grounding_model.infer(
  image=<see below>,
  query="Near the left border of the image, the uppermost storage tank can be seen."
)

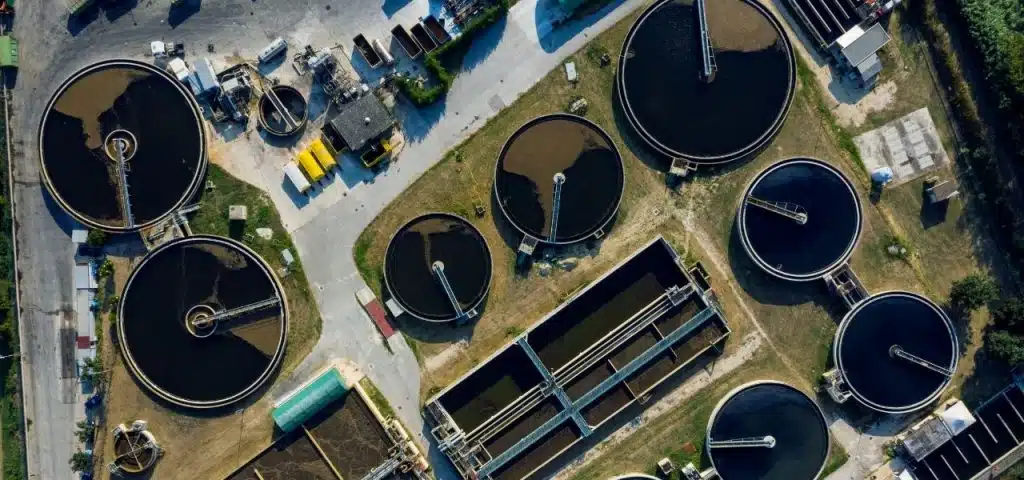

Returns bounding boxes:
[37,60,211,231]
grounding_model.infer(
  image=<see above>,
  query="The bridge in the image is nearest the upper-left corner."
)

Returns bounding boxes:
[116,140,134,227]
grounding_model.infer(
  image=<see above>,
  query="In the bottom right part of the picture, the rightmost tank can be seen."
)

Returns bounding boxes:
[818,289,959,415]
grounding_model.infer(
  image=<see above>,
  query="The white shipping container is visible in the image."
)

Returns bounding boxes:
[284,160,313,196]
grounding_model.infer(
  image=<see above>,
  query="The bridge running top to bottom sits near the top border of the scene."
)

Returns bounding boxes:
[696,0,716,75]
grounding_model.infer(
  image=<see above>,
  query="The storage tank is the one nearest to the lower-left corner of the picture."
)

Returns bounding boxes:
[104,419,167,477]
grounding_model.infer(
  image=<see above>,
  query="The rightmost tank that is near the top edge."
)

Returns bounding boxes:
[616,0,797,177]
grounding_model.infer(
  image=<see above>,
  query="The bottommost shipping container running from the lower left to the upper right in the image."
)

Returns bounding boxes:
[360,141,390,168]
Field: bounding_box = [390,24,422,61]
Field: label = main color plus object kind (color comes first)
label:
black shipping container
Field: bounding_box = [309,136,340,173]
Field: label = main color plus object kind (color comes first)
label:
yellow shipping container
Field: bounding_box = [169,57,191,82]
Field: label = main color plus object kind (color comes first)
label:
white vehicle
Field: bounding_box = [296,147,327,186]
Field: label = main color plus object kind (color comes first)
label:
yellow shipping container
